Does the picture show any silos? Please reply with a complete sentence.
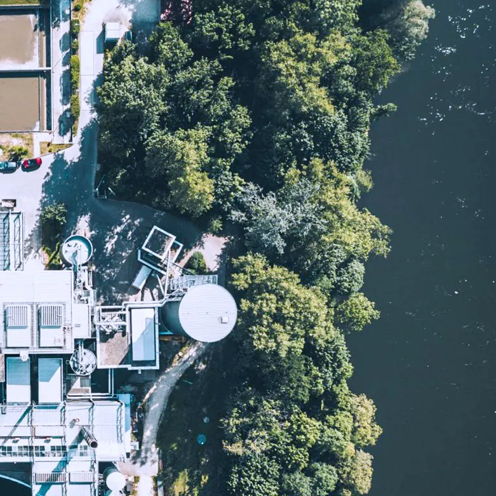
Yes, a silo appears in the view.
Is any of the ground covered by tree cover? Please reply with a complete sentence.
Yes, the picture does contain tree cover.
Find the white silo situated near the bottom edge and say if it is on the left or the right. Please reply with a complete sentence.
It is on the left.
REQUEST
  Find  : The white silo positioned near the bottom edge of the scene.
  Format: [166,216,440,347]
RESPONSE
[100,463,125,489]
